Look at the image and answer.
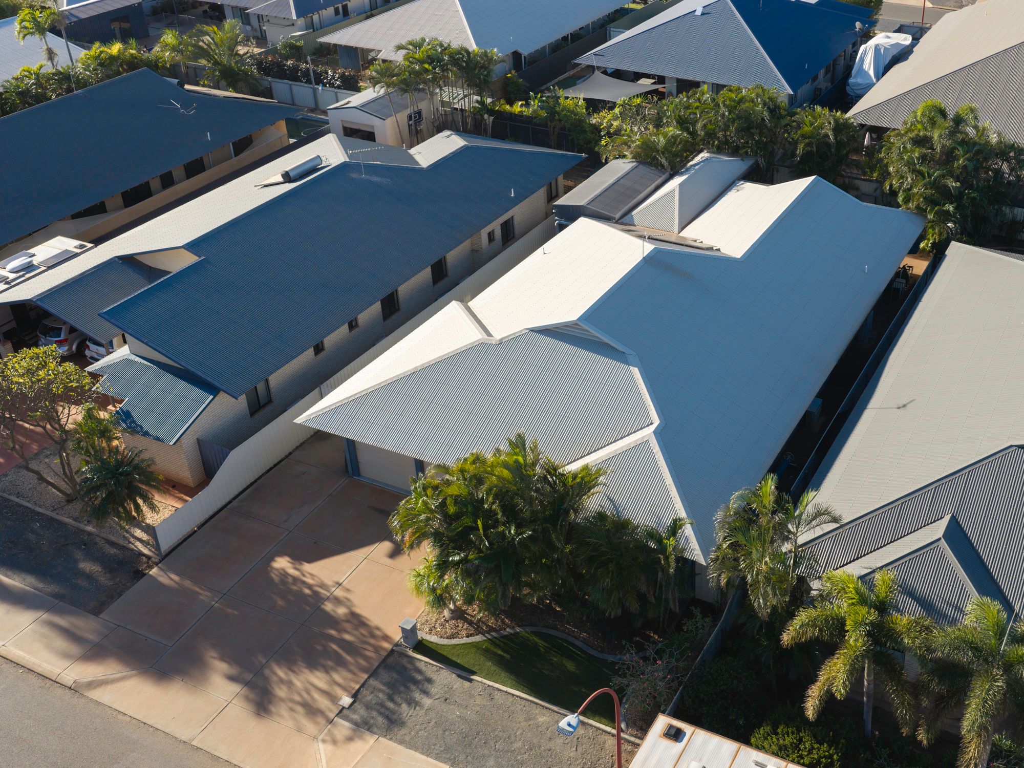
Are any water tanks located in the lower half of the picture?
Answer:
No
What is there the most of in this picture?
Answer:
buildings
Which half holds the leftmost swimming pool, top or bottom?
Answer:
top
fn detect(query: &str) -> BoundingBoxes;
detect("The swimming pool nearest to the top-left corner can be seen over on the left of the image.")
[275,113,333,146]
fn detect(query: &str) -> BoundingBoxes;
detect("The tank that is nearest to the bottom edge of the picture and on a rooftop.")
[273,146,335,177]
